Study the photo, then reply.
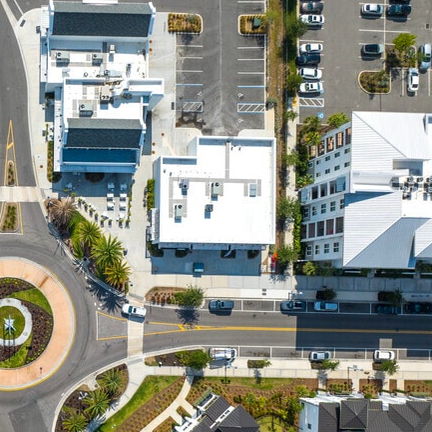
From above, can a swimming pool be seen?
No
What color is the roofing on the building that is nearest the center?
white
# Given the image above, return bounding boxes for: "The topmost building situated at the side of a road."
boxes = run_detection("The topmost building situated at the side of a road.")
[40,0,164,173]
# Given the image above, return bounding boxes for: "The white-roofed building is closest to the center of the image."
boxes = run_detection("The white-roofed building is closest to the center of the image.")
[150,137,276,250]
